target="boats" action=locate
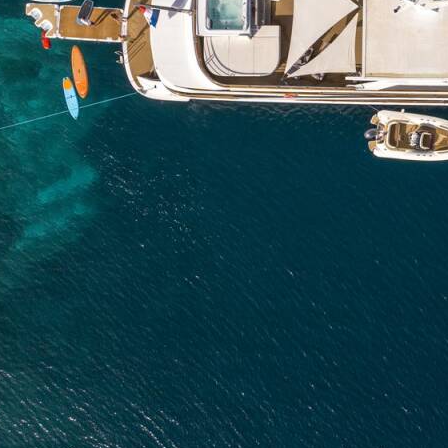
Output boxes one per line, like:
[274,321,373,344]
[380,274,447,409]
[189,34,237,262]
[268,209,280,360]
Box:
[109,0,448,105]
[364,110,448,161]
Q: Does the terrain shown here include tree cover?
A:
No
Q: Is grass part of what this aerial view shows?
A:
No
